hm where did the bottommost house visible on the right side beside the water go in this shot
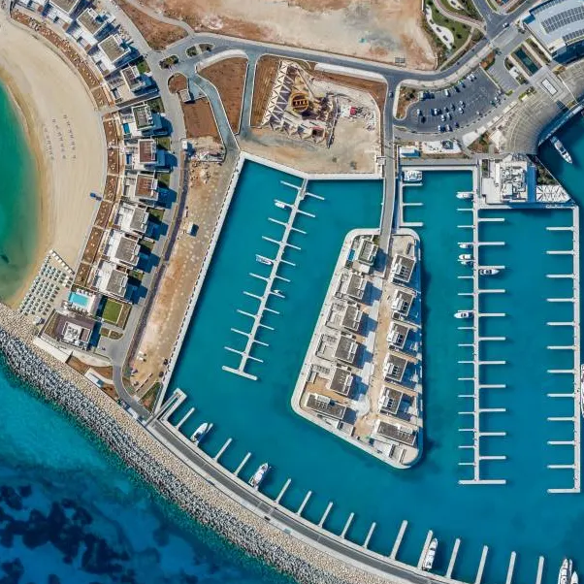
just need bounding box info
[371,414,426,445]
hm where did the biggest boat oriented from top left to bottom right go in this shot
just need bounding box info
[548,136,571,163]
